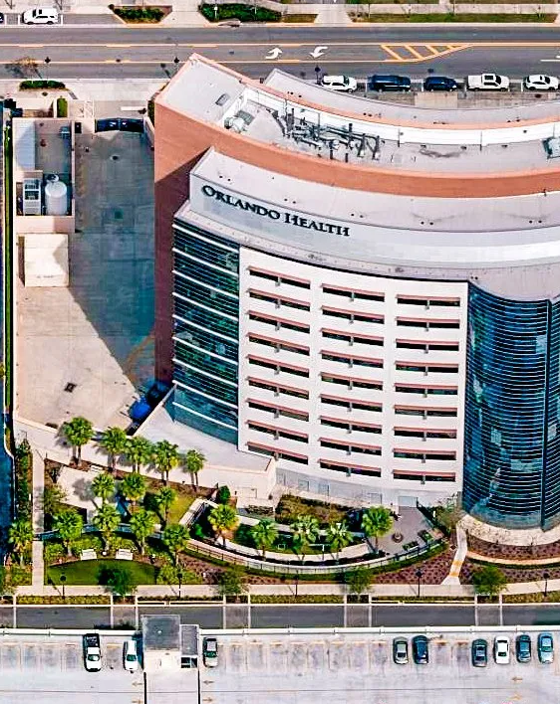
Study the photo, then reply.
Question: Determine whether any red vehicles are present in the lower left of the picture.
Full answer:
No, there is no red vehicle in the lower left of the picture.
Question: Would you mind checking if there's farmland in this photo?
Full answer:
No, the scene doesn't show any farmland.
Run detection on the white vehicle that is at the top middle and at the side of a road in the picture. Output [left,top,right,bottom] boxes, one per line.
[320,74,357,91]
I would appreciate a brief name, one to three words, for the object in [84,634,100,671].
vehicle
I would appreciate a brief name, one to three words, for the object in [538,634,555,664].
car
